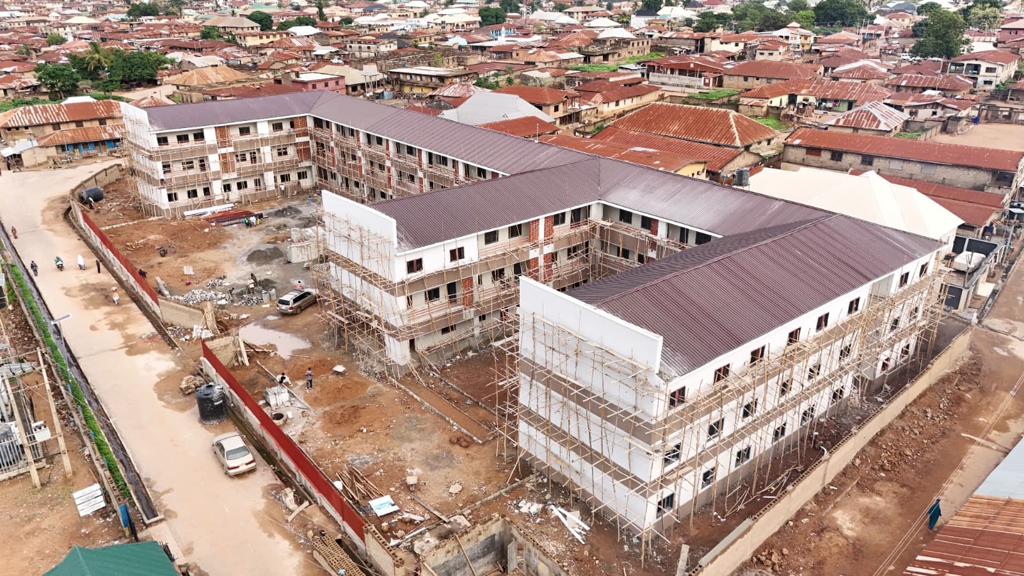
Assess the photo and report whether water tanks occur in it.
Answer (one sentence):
Yes, I can see a water tank in this picture.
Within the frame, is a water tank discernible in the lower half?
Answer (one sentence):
Yes, you'll find a water tank in the lower half.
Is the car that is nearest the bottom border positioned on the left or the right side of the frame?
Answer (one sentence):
The car that is nearest the bottom border sits on the left side.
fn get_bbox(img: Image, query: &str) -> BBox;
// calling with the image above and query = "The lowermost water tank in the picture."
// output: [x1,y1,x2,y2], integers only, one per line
[193,381,226,425]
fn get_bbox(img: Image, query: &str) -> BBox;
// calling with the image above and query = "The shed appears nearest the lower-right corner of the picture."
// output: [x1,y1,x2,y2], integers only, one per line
[893,443,1024,576]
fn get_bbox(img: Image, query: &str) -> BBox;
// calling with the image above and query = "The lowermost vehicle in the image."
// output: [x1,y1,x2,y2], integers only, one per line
[209,428,250,474]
